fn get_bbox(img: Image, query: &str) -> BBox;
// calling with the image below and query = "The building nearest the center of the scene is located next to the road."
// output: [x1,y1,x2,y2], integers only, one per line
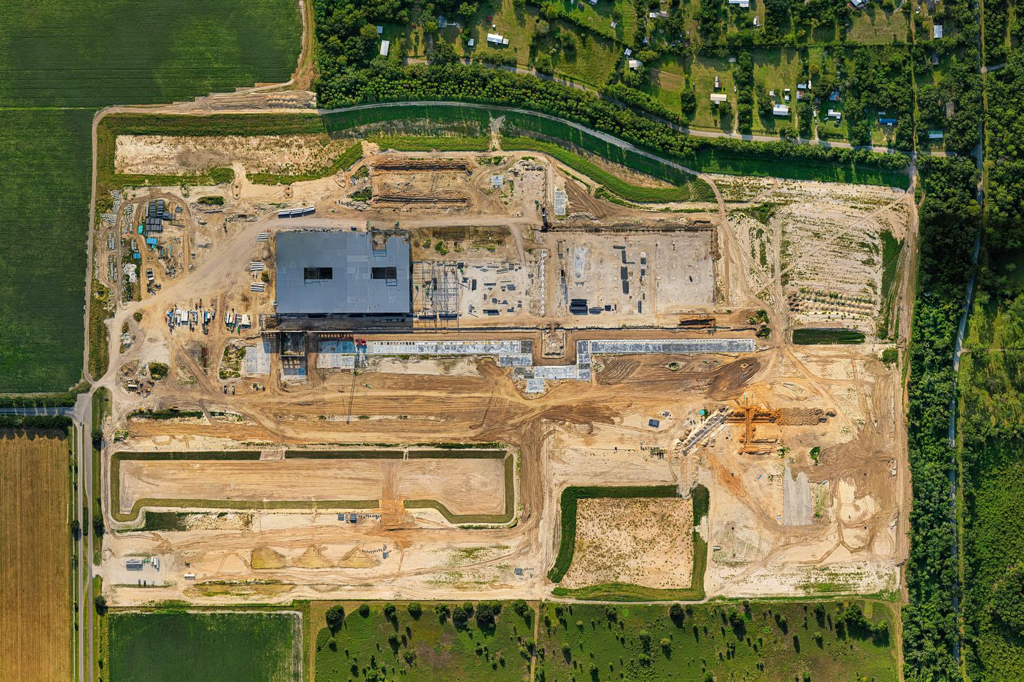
[274,230,409,313]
